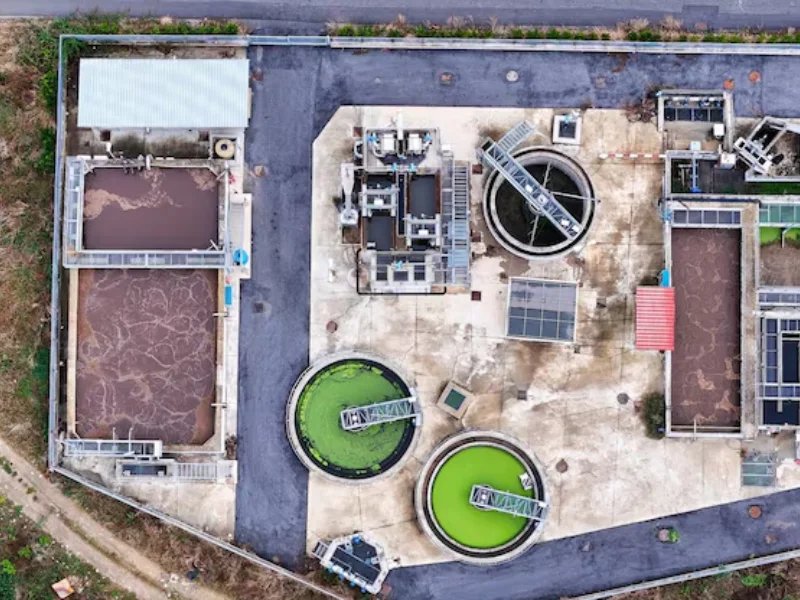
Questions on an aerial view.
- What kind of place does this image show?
industrial area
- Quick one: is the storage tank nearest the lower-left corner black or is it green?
green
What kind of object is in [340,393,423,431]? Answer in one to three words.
bridge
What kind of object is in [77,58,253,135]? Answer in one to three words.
shed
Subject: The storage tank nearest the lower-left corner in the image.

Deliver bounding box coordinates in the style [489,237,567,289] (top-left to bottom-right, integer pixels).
[287,348,423,483]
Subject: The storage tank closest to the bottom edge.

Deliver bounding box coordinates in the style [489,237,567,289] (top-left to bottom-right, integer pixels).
[415,427,552,562]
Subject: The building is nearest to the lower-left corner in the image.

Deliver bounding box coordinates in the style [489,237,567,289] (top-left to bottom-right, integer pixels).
[311,529,388,593]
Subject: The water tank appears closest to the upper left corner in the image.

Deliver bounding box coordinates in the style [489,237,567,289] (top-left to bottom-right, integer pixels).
[212,136,239,162]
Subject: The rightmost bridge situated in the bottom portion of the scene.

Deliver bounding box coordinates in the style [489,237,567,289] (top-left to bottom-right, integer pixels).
[469,485,552,525]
